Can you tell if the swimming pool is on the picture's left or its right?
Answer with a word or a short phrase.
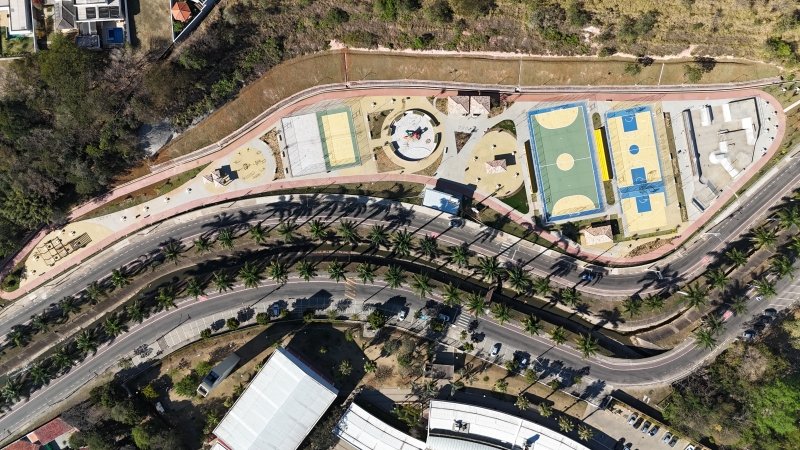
left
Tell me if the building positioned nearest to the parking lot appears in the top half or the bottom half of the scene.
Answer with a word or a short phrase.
bottom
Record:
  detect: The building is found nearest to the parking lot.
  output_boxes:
[427,398,588,450]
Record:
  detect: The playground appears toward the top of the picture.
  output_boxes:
[390,107,440,159]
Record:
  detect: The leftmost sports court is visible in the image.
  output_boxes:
[282,112,327,177]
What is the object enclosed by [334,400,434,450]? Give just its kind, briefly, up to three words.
building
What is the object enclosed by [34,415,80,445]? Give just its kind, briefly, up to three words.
house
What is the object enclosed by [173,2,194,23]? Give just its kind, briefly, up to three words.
gazebo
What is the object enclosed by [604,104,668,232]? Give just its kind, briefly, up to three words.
sports court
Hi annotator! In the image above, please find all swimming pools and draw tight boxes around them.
[102,27,125,47]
